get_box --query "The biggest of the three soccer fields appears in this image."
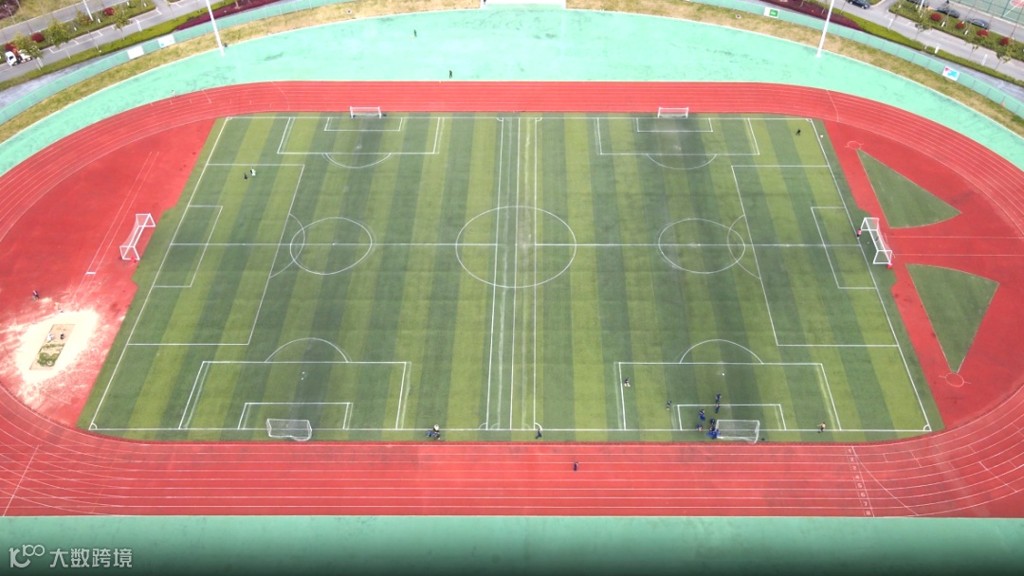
[77,112,945,443]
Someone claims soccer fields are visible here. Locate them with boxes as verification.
[523,118,840,430]
[180,118,512,430]
[77,112,945,443]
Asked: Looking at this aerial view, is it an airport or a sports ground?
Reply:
sports ground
